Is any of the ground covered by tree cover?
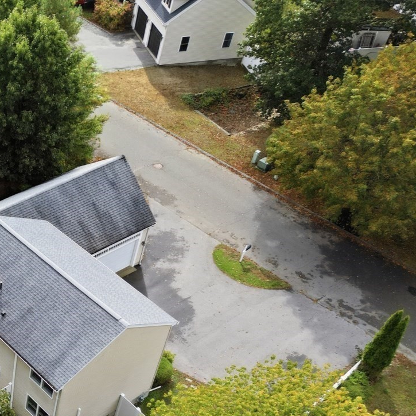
Yes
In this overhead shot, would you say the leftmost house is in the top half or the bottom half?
bottom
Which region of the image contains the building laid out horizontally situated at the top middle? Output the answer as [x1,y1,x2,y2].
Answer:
[120,0,257,65]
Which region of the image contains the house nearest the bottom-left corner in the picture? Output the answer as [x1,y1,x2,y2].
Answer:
[0,154,177,416]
